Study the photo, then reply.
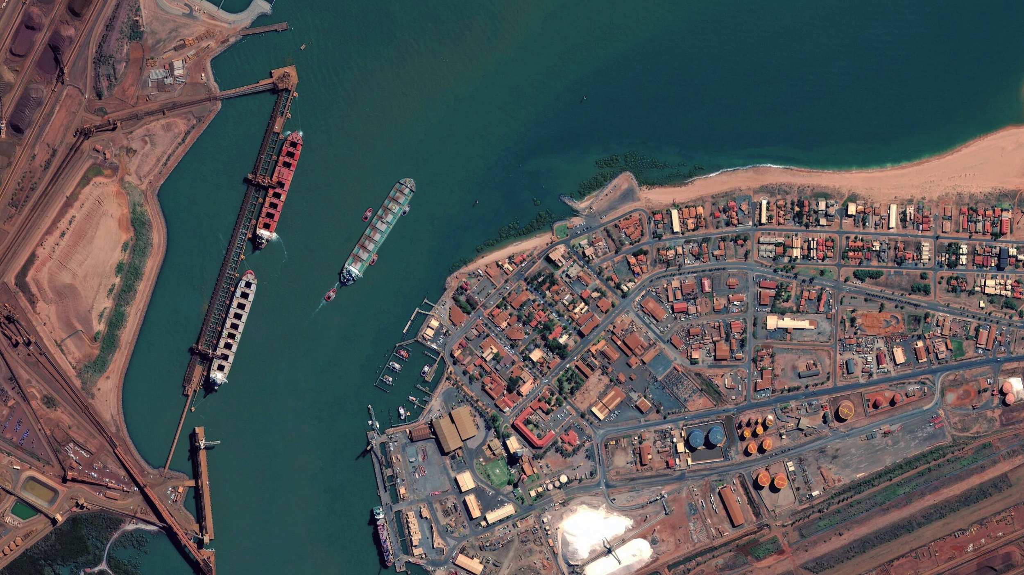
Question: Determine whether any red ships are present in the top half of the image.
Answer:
Yes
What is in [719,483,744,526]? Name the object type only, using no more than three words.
building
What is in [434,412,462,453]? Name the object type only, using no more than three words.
shed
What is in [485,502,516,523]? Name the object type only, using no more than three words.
building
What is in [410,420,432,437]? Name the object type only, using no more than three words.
shed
